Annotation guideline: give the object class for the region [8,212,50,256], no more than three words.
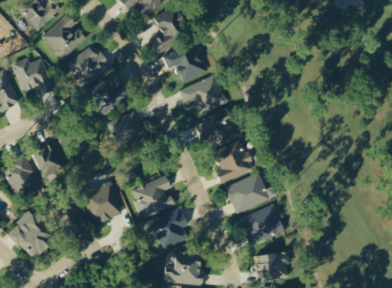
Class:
house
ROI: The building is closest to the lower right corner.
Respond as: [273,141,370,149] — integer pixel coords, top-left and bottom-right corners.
[256,249,290,282]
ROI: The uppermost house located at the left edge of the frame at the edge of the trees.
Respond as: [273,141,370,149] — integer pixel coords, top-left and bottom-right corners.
[18,0,62,30]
